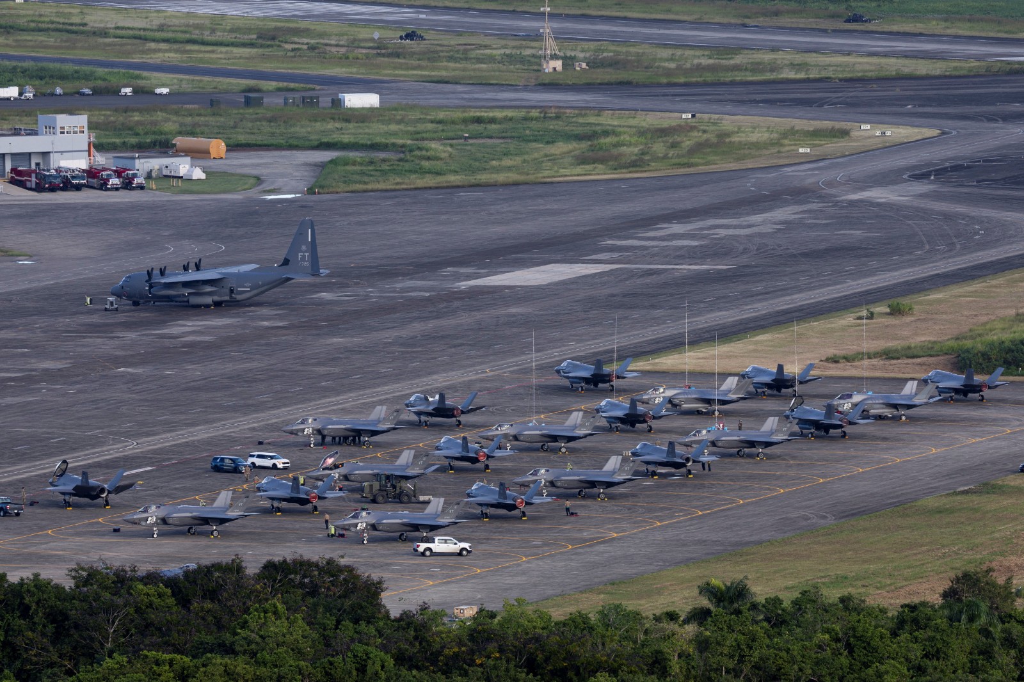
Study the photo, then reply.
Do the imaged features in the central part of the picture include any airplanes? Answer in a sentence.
Yes, an airplane shows up in the central part of the picture.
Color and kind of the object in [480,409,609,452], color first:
gray airplane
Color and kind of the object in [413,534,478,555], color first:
white truck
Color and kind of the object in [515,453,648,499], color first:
gray airplane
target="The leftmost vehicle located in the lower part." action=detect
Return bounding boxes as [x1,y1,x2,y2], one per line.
[0,495,24,515]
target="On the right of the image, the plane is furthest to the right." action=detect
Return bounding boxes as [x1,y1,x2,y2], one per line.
[924,365,1011,401]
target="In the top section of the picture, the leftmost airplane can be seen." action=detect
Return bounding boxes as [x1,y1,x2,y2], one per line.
[110,219,336,307]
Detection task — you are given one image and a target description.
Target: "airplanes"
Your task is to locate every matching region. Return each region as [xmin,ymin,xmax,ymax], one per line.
[38,456,137,507]
[431,432,517,471]
[624,438,720,477]
[120,489,261,538]
[250,472,347,513]
[332,494,475,543]
[829,379,945,420]
[554,355,641,391]
[303,447,440,492]
[515,453,648,499]
[736,360,823,396]
[480,409,609,452]
[783,391,872,438]
[596,394,677,432]
[403,389,487,427]
[110,219,336,307]
[677,415,806,458]
[462,477,555,519]
[282,404,408,447]
[924,365,1011,401]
